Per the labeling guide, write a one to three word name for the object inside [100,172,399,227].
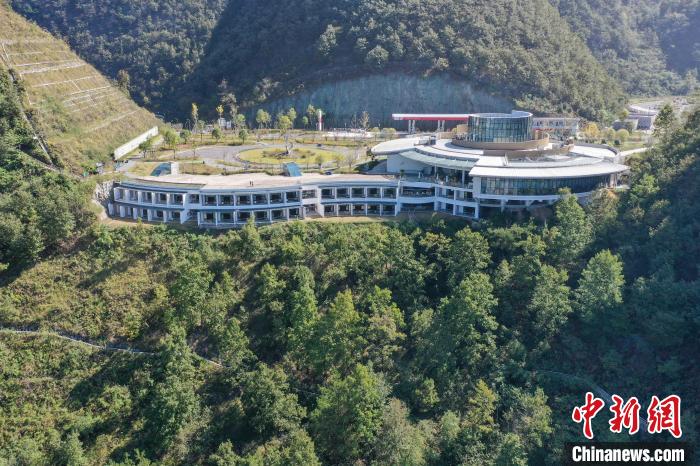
building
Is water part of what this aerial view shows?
No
